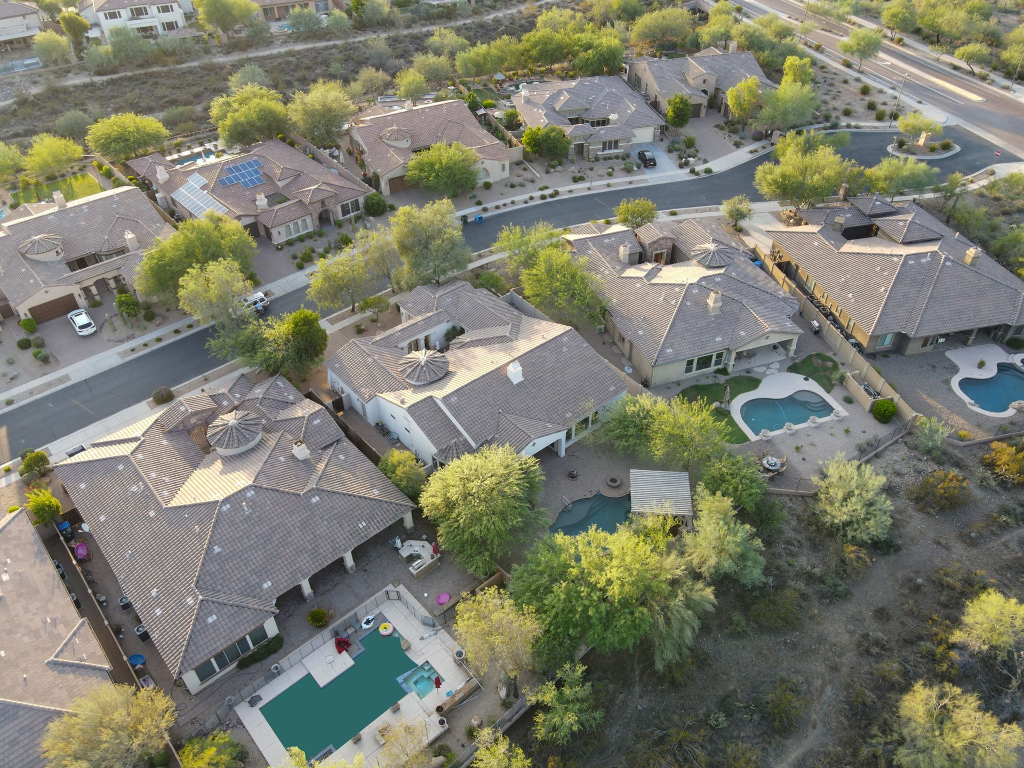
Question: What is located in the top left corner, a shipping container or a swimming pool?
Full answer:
It is a swimming pool that can be seen in the top left corner.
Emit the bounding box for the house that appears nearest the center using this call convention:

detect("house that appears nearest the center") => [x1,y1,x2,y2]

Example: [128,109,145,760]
[323,279,629,473]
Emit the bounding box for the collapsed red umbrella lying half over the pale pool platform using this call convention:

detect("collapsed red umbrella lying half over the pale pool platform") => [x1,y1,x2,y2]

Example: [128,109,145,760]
[328,635,355,657]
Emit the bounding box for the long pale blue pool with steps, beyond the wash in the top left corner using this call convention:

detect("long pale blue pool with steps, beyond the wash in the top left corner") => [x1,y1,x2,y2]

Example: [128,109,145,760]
[0,56,42,76]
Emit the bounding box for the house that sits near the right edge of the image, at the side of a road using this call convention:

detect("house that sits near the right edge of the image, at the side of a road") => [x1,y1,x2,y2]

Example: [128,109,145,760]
[764,192,1024,355]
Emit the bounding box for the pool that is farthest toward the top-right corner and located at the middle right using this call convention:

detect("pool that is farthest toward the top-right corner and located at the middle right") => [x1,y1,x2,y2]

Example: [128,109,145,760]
[944,344,1024,419]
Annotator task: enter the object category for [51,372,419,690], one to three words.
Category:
house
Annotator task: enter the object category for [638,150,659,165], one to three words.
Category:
car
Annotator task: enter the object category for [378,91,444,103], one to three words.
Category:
swimming pool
